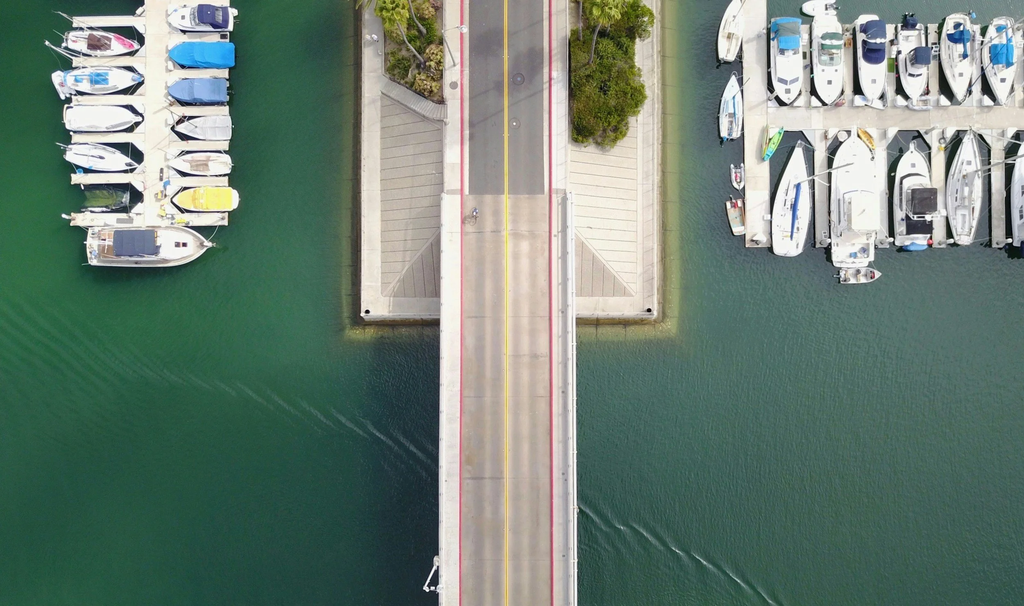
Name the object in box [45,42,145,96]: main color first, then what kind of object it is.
white boat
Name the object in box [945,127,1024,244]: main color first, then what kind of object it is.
white boat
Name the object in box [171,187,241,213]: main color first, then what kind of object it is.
yellow boat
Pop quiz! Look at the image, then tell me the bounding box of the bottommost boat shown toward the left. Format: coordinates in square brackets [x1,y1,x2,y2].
[81,225,219,267]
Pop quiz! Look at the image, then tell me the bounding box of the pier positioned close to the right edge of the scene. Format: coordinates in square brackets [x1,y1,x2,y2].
[743,0,1024,248]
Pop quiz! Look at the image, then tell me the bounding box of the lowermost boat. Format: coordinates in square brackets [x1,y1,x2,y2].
[837,262,881,284]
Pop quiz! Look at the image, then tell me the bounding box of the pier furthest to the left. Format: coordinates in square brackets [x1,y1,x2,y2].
[70,0,229,226]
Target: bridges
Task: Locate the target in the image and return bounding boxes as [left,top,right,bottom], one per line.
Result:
[437,192,580,606]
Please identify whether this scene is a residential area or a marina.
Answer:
marina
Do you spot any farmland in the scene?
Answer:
No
